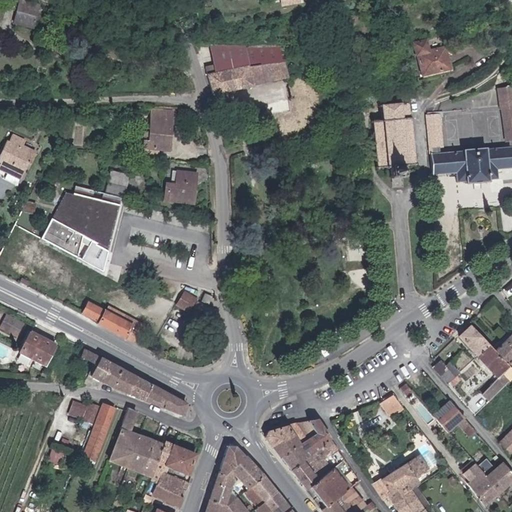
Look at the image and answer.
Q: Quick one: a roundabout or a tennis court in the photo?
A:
roundabout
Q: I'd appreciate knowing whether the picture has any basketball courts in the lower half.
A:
No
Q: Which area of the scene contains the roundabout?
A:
bottom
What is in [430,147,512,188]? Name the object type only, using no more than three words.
building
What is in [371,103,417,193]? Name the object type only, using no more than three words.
building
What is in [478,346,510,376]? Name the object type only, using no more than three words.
house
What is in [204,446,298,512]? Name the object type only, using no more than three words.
house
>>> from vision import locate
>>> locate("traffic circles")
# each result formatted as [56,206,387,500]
[201,373,257,429]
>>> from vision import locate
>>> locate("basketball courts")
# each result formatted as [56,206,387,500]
[442,107,504,150]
